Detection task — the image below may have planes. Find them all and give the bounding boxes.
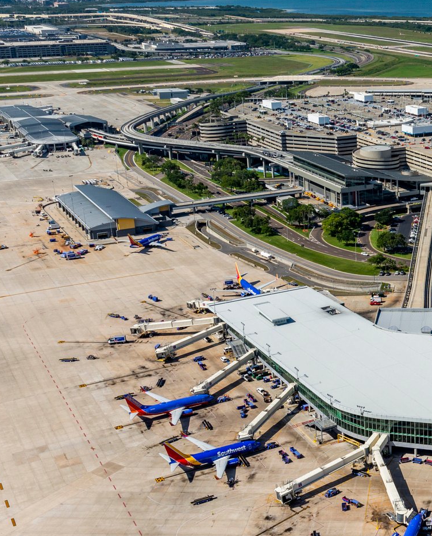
[123,386,215,427]
[393,512,432,536]
[116,233,165,247]
[162,431,262,480]
[214,266,277,298]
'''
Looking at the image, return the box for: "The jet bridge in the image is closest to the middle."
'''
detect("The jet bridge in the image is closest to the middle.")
[183,300,214,317]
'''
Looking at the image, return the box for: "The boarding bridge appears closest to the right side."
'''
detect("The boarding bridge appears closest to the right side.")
[370,435,417,528]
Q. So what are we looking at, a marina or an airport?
airport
